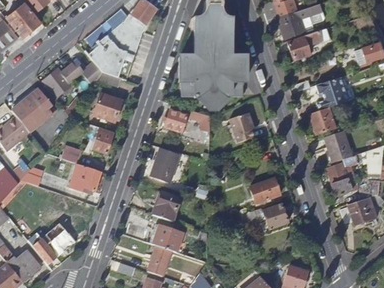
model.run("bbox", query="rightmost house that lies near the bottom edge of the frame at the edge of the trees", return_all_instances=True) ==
[282,264,310,288]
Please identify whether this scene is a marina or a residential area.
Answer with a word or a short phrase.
residential area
